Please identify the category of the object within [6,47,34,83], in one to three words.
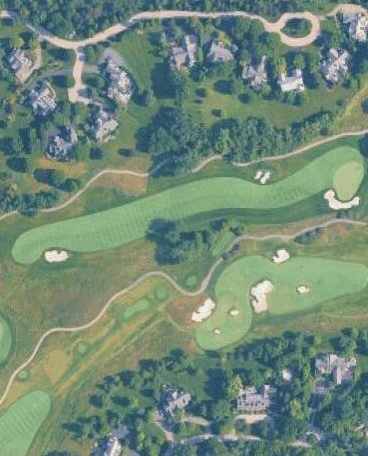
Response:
house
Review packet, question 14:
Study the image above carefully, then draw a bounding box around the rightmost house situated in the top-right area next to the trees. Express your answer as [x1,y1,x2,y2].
[342,11,368,42]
